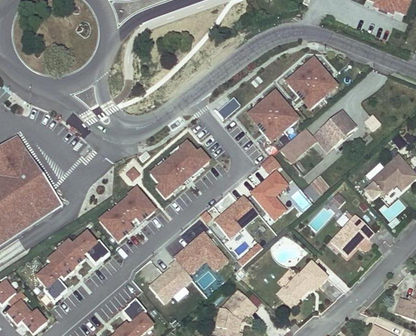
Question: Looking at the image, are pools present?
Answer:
Yes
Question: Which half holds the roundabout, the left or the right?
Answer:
left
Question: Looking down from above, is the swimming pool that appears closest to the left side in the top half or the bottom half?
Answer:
bottom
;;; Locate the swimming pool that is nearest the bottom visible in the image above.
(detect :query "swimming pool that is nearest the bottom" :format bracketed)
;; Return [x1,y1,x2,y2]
[193,264,225,292]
